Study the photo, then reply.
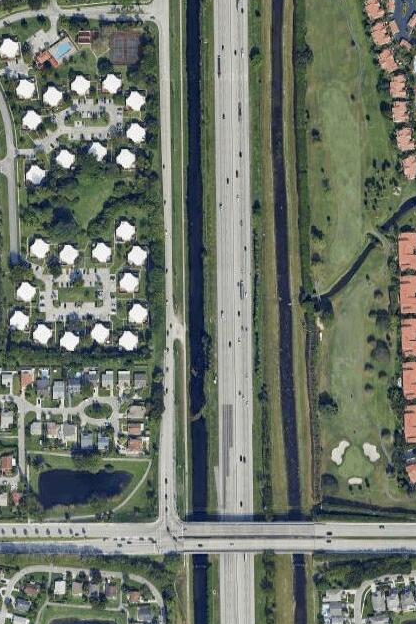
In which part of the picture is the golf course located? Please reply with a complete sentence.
Look in the right portion of the view to spot the golf course.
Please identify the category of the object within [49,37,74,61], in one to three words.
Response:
swimming pool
